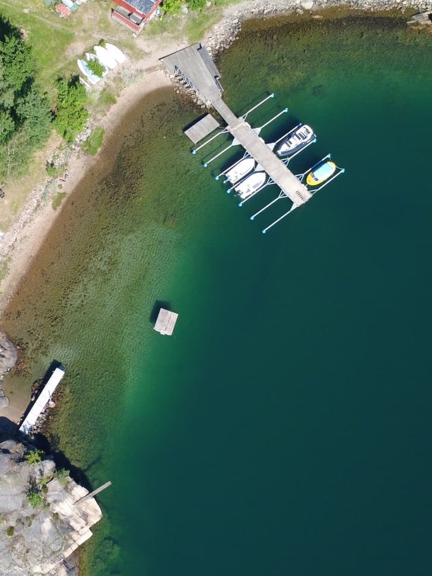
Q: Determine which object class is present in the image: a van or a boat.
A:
boat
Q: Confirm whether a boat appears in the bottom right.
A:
No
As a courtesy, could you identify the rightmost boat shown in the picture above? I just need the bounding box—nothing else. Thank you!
[308,159,340,185]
